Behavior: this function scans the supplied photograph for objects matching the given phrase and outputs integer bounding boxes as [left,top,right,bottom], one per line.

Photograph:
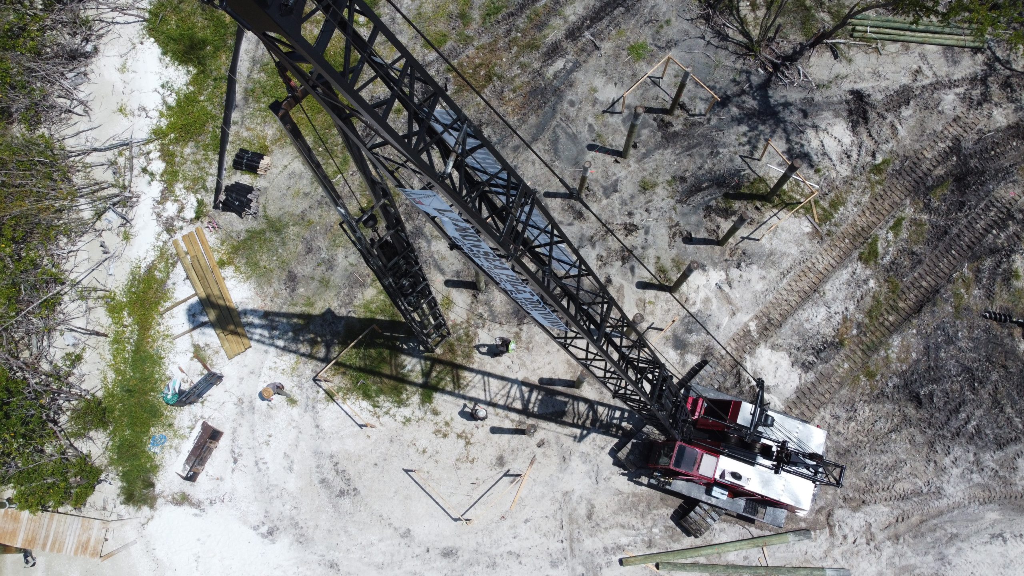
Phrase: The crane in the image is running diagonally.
[222,0,847,540]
